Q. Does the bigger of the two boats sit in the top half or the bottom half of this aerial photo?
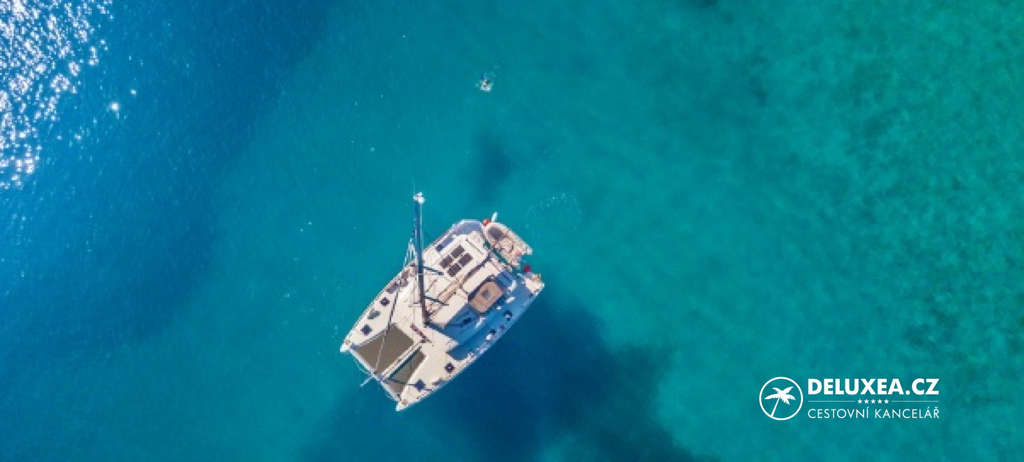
bottom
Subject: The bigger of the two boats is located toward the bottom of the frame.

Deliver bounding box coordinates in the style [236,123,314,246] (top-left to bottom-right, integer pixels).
[340,192,542,416]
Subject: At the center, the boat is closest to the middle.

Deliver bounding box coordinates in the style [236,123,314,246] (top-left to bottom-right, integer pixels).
[483,224,531,270]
